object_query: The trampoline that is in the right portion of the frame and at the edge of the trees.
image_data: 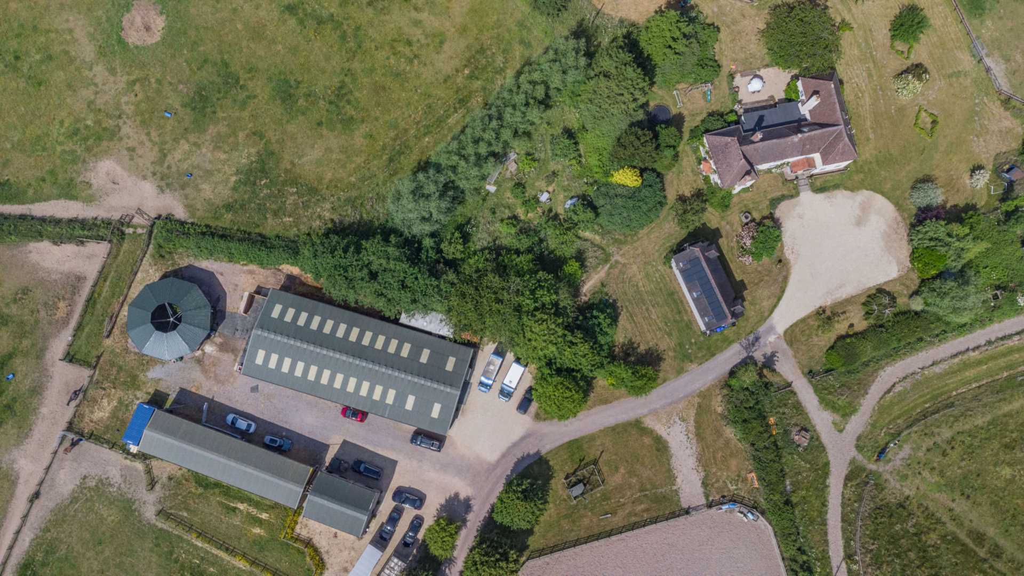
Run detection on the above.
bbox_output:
[650,99,675,124]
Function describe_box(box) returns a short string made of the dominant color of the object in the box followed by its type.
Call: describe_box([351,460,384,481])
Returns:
black car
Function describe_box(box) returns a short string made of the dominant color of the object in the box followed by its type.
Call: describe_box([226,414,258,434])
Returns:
blue car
